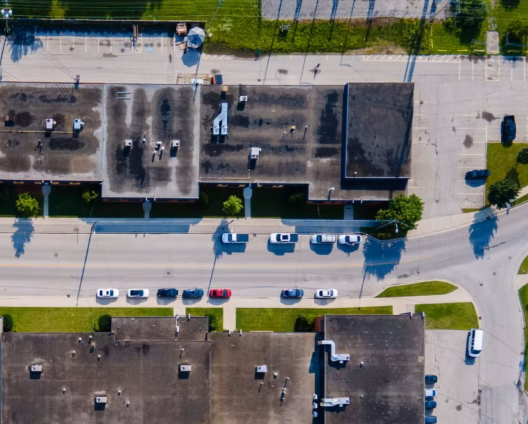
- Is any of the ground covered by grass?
Yes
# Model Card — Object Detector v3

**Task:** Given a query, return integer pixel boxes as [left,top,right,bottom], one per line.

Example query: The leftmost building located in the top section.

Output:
[0,82,103,186]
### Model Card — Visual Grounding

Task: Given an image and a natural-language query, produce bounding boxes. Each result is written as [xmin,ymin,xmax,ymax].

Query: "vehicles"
[96,289,119,298]
[281,288,303,298]
[270,233,298,243]
[315,289,337,298]
[156,288,178,298]
[425,400,437,410]
[425,415,438,424]
[469,328,484,357]
[210,289,231,298]
[502,116,515,143]
[465,169,488,180]
[338,234,361,244]
[425,374,437,385]
[310,233,337,244]
[222,232,249,243]
[182,288,204,298]
[425,389,438,397]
